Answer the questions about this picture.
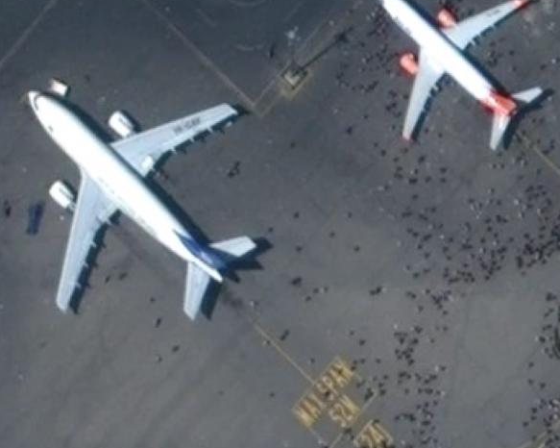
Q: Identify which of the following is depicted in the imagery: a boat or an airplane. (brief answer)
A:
airplane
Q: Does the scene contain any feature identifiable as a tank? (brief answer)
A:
No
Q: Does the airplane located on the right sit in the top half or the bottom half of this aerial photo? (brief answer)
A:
top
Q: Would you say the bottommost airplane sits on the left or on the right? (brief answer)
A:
left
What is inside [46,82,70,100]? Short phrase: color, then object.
white vehicle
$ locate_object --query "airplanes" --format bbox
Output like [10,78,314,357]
[380,0,545,151]
[27,91,256,319]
